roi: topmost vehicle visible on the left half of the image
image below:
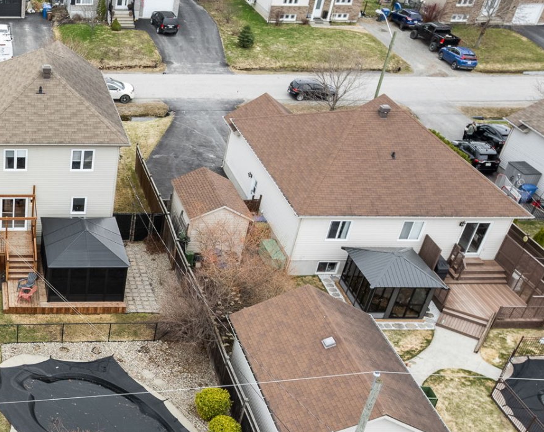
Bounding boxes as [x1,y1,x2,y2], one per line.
[151,12,179,33]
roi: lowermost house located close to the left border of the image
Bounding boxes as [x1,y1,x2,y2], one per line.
[0,40,130,247]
